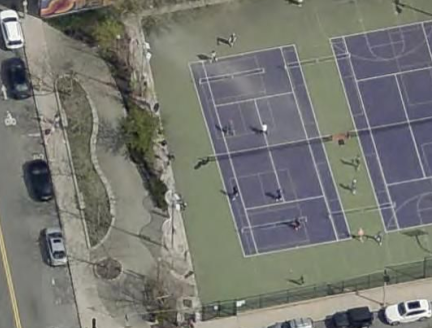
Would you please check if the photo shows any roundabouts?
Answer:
No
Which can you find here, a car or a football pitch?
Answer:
car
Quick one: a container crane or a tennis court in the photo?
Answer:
tennis court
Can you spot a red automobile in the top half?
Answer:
No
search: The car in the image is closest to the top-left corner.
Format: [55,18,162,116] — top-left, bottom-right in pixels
[1,12,25,52]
